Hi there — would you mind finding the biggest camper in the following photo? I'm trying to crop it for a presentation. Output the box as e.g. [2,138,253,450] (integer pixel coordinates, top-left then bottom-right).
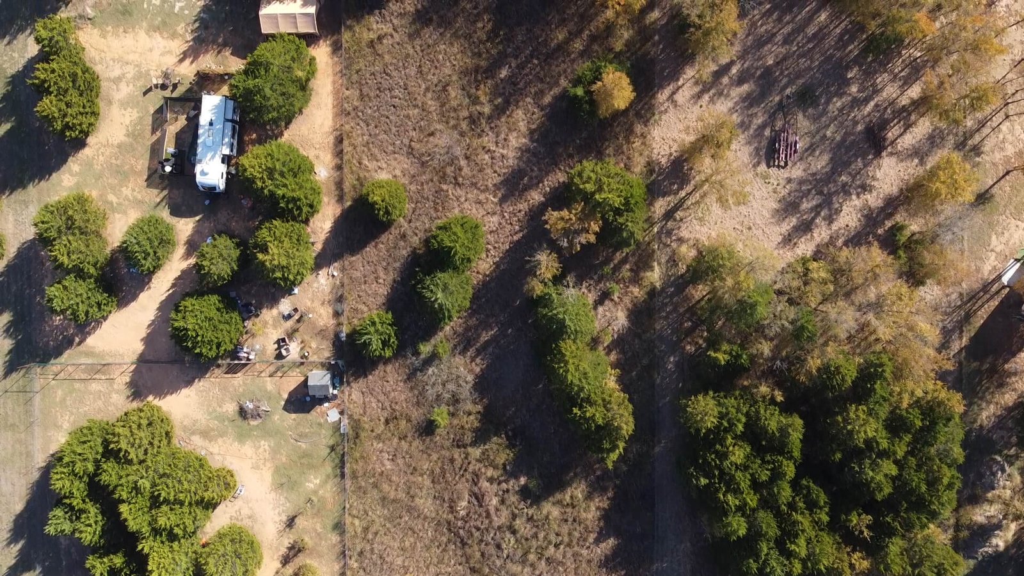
[197,96,245,199]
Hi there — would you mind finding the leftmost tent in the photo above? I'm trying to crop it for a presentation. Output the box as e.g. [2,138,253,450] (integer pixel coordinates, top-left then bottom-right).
[258,0,326,50]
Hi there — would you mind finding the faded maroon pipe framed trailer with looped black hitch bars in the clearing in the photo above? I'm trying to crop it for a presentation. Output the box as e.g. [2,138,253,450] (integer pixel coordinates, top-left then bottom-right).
[776,91,802,168]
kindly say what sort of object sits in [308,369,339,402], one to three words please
shed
